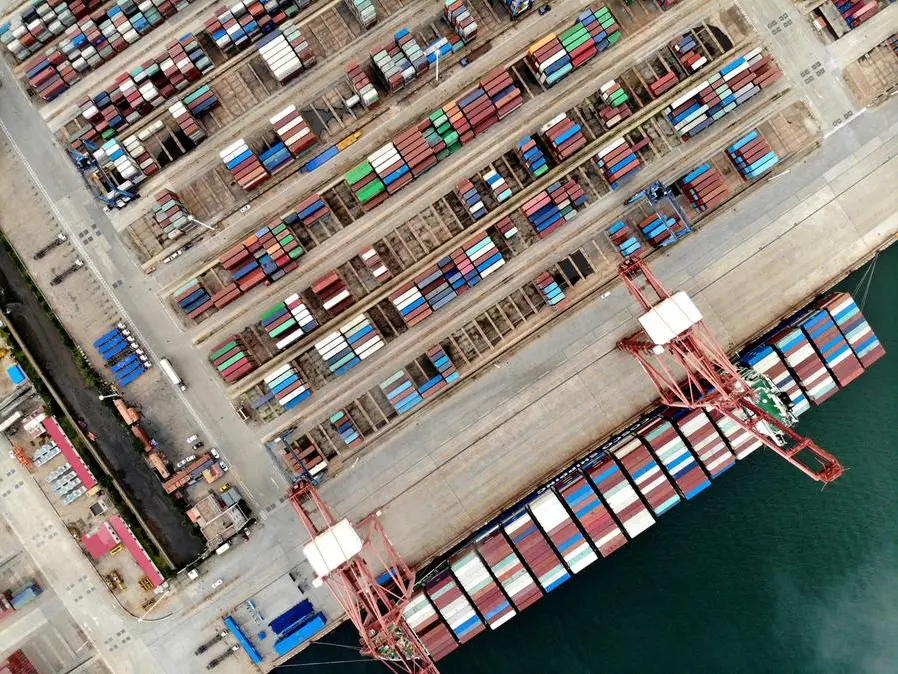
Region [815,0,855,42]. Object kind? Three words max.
building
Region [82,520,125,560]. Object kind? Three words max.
house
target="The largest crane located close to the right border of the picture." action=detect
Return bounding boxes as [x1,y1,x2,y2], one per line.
[610,248,856,486]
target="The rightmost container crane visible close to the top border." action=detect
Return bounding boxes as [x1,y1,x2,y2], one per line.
[490,0,527,38]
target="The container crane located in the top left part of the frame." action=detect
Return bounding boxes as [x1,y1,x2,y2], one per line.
[56,133,133,206]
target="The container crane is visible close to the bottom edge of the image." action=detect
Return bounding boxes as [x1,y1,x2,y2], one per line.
[277,474,438,674]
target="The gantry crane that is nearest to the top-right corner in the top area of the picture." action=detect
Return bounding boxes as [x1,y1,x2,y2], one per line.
[627,182,695,251]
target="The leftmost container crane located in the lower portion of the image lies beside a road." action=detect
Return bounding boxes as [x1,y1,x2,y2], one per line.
[263,428,326,497]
